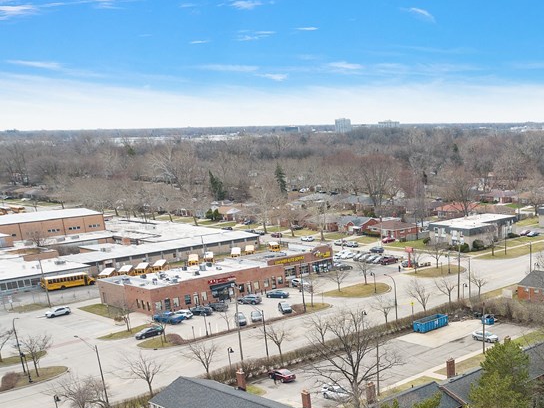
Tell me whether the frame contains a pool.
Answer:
No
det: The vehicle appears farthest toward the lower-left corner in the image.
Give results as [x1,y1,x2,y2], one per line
[46,305,77,317]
